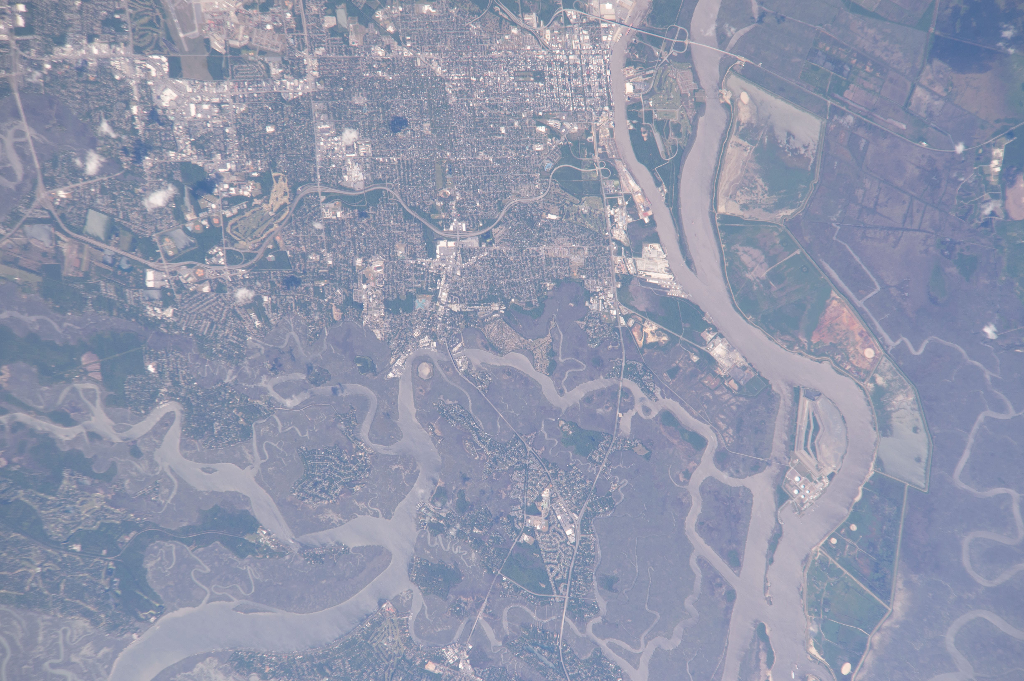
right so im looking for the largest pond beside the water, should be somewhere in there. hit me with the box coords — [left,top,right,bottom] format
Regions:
[877,410,928,488]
